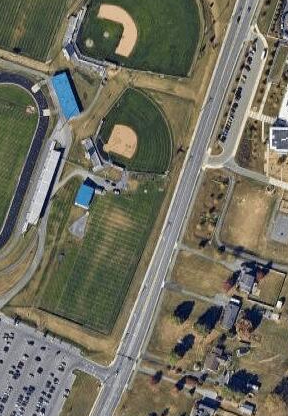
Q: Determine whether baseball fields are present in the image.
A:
Yes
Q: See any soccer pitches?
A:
Yes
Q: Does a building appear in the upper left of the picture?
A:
Yes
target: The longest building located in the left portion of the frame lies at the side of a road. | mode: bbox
[51,71,81,120]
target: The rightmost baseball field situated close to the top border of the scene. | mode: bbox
[73,0,202,76]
